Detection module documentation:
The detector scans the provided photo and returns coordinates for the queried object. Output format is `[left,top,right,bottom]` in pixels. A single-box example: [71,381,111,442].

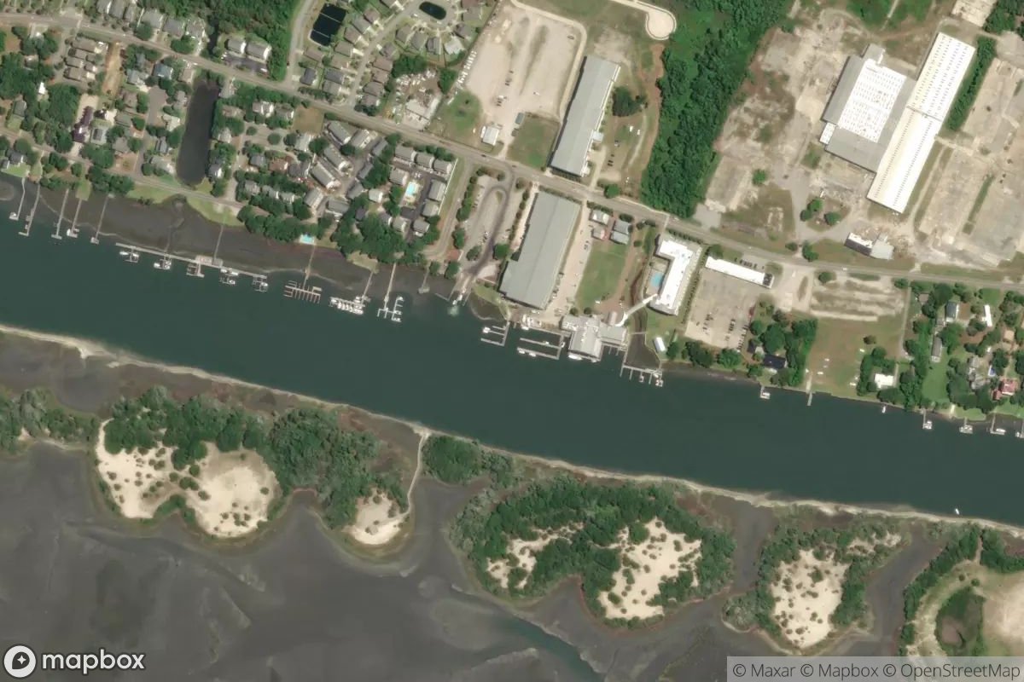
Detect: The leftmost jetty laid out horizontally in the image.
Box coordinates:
[116,225,268,292]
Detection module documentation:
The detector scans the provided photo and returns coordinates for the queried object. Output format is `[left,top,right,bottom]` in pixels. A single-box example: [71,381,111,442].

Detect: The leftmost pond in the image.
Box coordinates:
[177,82,219,186]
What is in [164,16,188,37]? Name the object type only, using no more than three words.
house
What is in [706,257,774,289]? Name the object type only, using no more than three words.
building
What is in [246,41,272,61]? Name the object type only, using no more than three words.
building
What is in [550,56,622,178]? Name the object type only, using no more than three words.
shed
